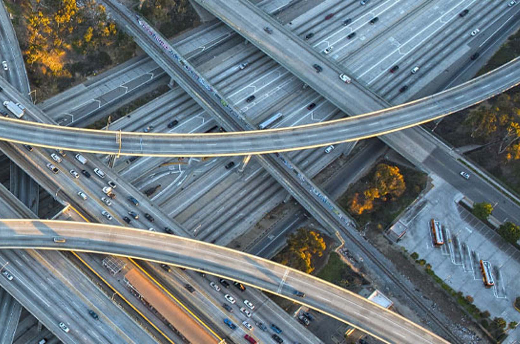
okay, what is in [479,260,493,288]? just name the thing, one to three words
vehicle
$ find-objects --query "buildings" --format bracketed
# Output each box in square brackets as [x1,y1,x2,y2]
[367,290,394,309]
[386,220,407,244]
